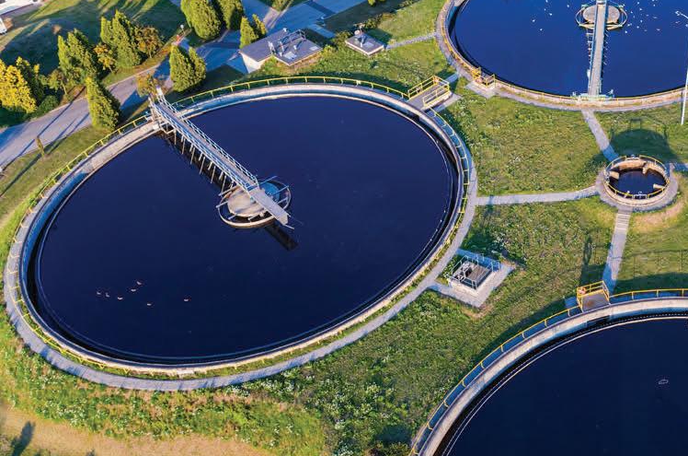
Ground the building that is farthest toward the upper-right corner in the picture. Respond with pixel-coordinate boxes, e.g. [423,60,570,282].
[346,26,384,61]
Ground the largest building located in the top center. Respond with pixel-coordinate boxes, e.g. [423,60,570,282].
[238,24,322,80]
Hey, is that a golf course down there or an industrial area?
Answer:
industrial area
